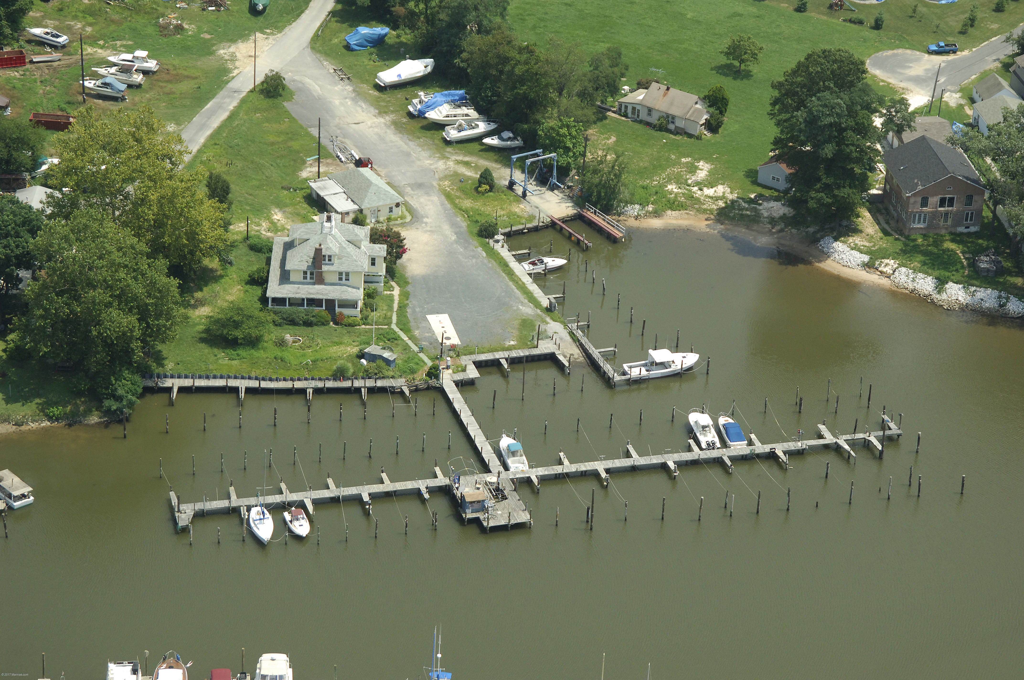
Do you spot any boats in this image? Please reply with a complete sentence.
Yes, the frame does contain a boat.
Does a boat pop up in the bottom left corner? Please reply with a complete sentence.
Yes, I can see a boat in the bottom left corner.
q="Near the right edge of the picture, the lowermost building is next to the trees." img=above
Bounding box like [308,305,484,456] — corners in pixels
[886,140,989,235]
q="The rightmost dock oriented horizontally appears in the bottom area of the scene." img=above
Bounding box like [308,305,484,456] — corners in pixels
[837,430,904,442]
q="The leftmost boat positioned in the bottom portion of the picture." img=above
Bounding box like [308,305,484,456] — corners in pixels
[0,461,36,513]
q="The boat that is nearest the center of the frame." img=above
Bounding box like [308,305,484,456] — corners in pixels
[523,257,567,273]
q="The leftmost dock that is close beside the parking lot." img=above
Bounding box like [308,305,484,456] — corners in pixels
[180,478,453,516]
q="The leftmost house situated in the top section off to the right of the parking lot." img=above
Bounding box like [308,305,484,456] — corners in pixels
[616,82,720,137]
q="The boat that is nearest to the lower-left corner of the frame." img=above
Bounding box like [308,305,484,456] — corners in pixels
[105,660,143,680]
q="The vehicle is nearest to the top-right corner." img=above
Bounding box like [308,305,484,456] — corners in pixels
[925,43,958,57]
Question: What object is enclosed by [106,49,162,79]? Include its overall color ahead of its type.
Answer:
white boat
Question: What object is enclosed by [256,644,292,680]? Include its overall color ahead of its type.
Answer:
white boat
